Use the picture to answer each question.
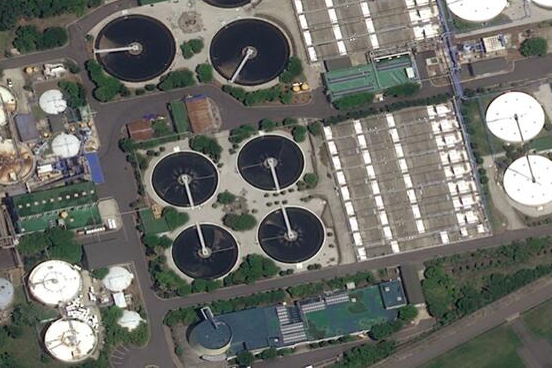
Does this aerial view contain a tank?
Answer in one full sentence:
Yes, there is a tank in the image.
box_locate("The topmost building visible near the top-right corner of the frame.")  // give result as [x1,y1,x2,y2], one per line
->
[484,34,505,57]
